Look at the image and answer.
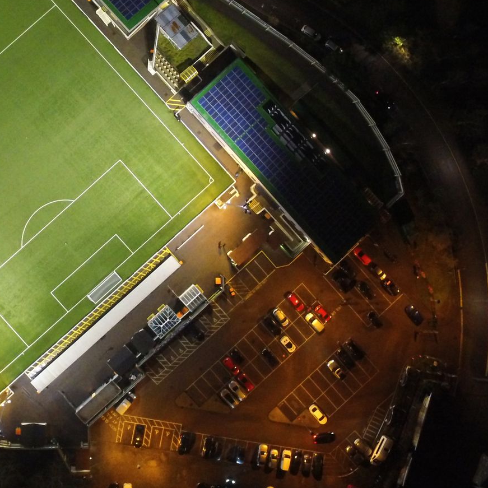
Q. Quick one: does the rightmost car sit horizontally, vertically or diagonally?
diagonally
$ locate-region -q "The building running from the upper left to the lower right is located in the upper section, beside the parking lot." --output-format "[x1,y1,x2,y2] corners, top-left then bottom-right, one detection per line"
[184,57,380,265]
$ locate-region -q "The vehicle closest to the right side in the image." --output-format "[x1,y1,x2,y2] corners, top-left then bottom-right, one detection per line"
[404,303,426,327]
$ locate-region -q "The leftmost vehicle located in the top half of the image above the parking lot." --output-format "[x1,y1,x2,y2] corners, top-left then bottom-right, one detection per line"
[300,25,322,43]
